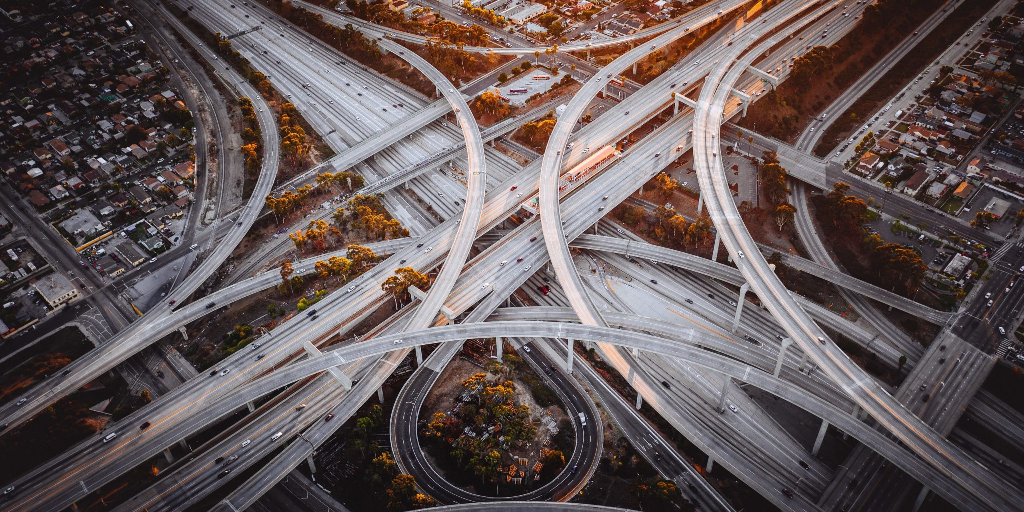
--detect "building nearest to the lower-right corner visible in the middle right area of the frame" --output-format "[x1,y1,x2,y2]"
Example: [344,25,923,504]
[939,250,977,290]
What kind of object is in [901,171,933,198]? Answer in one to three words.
house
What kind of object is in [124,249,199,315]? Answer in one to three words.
building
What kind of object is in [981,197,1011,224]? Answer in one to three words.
building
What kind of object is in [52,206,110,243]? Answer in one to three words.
house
